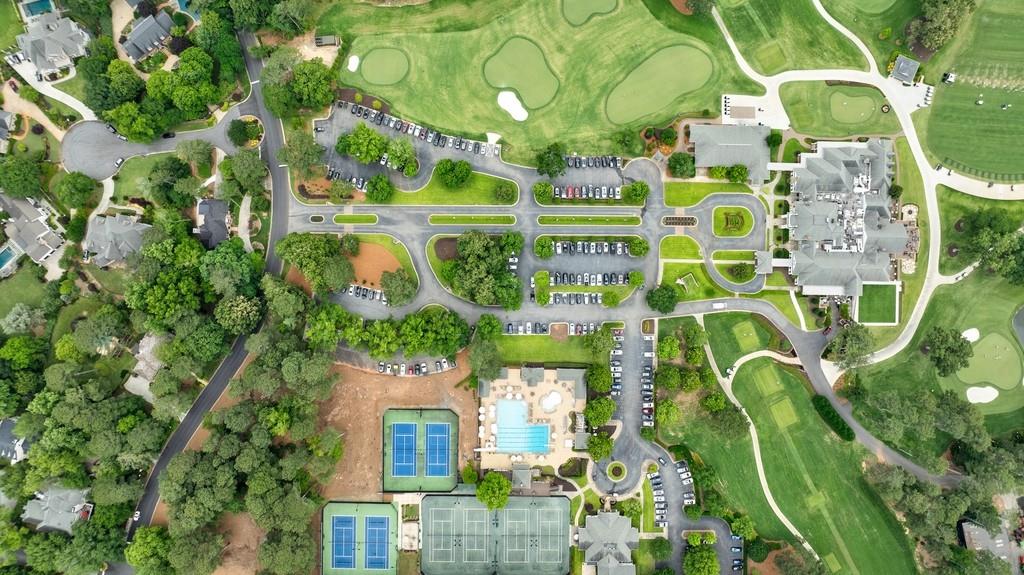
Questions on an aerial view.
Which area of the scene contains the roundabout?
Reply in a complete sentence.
The roundabout is in the bottom part of the image.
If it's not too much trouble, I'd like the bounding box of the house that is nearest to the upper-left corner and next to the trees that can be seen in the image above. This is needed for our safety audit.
[23,11,87,76]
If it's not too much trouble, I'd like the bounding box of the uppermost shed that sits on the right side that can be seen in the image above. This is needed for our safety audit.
[887,55,919,85]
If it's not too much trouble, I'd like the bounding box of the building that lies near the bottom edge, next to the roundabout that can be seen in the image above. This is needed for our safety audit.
[578,509,638,575]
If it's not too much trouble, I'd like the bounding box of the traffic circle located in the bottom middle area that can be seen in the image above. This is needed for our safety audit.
[591,445,641,497]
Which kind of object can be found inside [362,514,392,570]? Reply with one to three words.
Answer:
tennis court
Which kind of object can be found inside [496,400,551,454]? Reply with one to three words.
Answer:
swimming pool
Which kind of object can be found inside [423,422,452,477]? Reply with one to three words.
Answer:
tennis court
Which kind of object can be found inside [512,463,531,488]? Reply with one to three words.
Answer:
building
